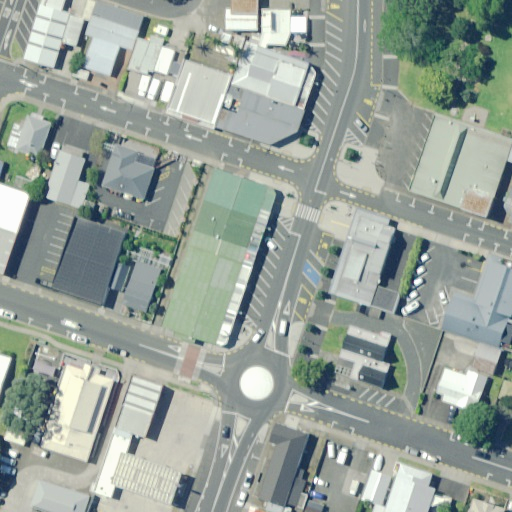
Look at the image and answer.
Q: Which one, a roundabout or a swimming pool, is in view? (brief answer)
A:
roundabout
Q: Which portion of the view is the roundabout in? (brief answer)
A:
bottom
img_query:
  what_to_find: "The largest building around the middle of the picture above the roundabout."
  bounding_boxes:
[162,168,276,347]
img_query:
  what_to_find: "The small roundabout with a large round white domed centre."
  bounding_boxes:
[228,354,286,412]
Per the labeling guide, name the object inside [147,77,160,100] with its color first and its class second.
white vehicle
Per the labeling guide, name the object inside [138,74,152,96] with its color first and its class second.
white vehicle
